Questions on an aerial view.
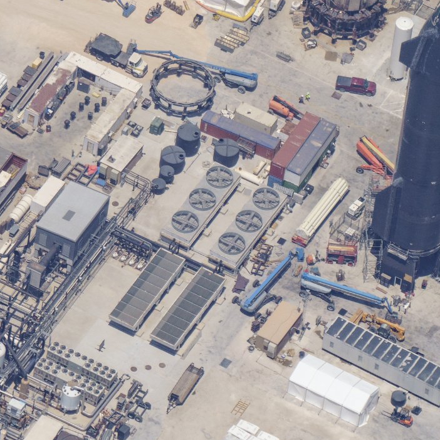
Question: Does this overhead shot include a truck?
Yes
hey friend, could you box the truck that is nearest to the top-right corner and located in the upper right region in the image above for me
[336,76,375,98]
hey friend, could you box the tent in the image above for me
[284,358,378,428]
